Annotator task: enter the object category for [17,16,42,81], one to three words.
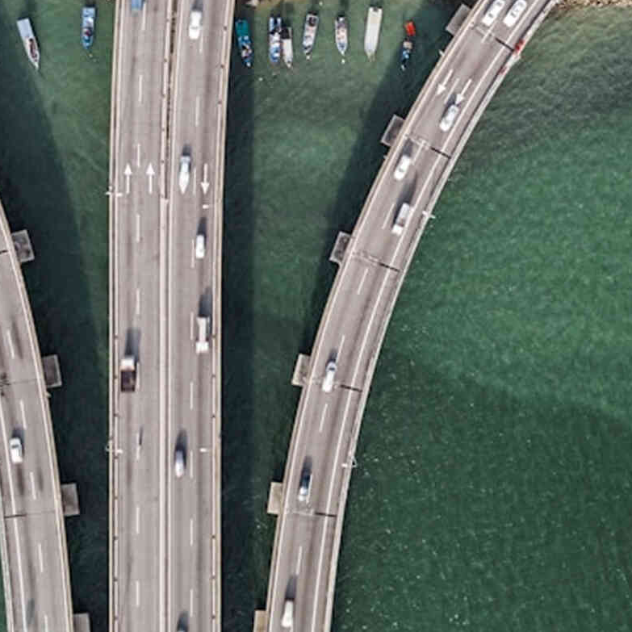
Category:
boat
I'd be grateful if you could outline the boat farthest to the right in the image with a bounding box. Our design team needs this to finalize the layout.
[399,17,415,79]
